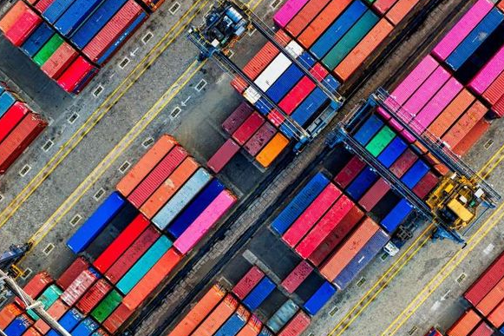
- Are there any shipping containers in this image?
Yes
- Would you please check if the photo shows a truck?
Yes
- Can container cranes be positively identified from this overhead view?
Yes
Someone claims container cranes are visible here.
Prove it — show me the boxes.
[185,0,347,152]
[0,236,79,336]
[334,89,502,246]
